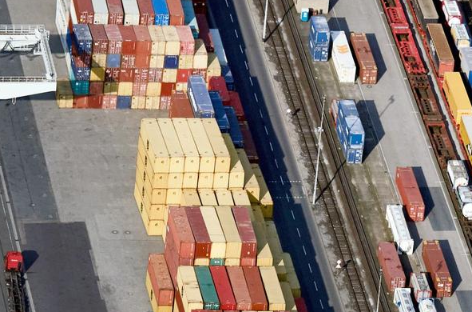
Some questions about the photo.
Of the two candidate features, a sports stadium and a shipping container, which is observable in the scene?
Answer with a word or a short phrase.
shipping container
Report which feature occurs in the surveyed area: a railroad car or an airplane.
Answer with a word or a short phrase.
railroad car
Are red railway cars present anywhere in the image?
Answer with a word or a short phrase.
Yes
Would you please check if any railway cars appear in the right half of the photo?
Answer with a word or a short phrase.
Yes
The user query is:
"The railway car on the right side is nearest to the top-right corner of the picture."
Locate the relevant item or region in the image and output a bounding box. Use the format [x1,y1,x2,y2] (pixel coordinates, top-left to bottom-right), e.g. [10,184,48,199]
[433,0,451,36]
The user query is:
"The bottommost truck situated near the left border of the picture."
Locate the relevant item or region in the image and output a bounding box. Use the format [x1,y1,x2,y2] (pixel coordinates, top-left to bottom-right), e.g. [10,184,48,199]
[2,249,33,312]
